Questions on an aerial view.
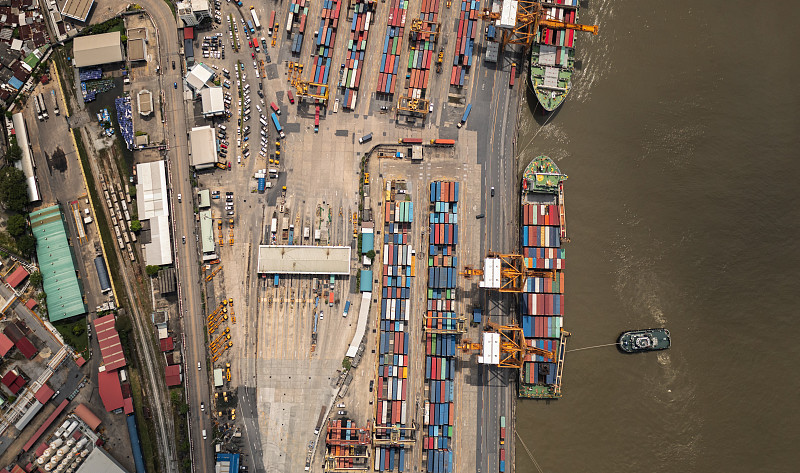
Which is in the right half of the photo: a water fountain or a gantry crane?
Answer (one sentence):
There is a gantry crane in the right half of the photo.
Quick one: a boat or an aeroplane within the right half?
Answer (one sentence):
It is a boat that can be seen within the right half.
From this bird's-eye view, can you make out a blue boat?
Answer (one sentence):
No, I can't see a single blue boat in this photo.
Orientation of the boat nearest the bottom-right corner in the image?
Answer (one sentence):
In this picture, the boat nearest the bottom-right corner lies from side to side.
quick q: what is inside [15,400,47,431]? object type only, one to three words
shed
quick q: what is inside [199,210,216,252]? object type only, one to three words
building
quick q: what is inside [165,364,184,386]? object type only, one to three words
house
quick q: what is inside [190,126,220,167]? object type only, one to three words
building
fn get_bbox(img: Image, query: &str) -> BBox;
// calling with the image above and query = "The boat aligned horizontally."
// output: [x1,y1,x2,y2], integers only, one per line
[618,328,670,353]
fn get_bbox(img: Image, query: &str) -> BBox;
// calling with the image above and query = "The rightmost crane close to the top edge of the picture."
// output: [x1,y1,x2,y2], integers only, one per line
[475,0,598,54]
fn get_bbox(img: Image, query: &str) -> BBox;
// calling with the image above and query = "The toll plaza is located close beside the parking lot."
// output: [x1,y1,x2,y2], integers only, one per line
[257,245,357,276]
